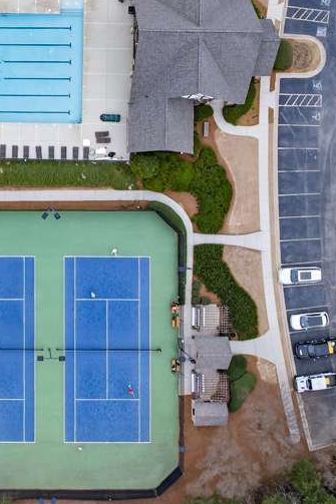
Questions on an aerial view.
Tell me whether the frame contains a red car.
No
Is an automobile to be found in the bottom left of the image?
No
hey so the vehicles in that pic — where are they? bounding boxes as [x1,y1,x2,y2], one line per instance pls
[295,338,336,360]
[279,267,322,286]
[293,372,336,393]
[289,312,329,331]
